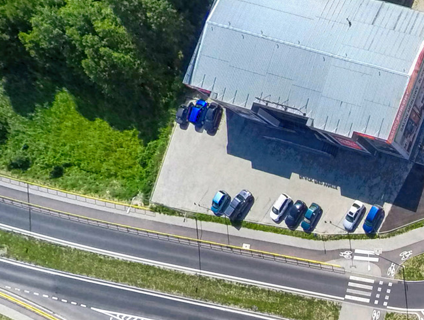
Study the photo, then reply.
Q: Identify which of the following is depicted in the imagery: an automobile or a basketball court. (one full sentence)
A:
The one in the frame is an automobile.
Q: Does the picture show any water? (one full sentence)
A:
No, there is no water in the image.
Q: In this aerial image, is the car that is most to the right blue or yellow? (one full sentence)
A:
In this view, the car that is most to the right is blue.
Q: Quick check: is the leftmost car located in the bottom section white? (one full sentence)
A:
No, the leftmost car located in the bottom section is blue.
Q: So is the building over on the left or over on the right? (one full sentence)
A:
The building appears in the right half of the scene.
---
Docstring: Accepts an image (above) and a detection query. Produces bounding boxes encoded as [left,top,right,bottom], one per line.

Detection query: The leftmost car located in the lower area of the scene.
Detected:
[211,189,232,215]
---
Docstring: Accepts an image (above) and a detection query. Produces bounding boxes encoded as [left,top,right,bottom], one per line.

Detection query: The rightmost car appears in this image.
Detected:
[363,204,384,233]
